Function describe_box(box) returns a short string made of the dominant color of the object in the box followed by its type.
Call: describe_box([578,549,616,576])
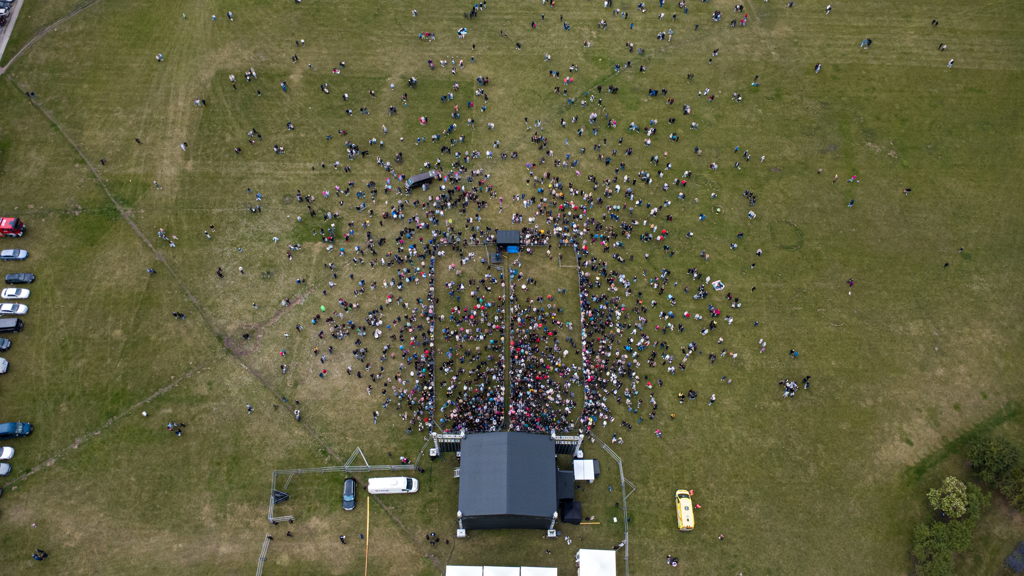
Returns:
white tent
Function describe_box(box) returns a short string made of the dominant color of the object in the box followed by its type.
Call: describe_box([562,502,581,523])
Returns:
black gazebo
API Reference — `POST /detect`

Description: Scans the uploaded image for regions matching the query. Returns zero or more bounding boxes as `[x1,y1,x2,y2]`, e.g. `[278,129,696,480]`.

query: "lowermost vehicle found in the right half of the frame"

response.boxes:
[675,489,693,530]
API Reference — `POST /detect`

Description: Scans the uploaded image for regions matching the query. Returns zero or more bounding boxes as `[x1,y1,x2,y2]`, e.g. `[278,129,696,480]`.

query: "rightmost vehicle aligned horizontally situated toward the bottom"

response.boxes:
[368,476,419,494]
